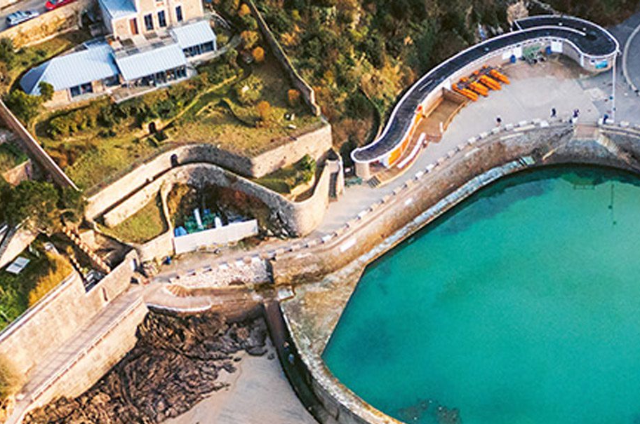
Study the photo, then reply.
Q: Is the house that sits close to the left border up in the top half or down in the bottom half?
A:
top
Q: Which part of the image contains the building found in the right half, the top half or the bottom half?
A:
top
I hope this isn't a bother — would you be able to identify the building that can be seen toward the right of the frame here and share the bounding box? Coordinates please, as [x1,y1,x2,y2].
[350,13,619,181]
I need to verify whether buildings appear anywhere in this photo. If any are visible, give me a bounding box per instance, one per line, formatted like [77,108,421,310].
[350,13,619,181]
[19,0,217,113]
